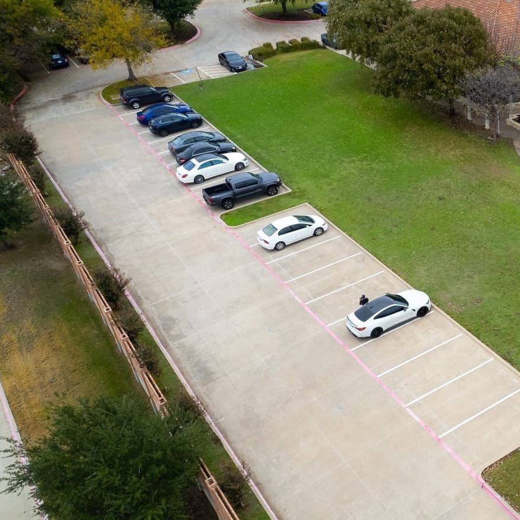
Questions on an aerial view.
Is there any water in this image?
No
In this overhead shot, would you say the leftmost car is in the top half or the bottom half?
top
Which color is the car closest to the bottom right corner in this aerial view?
white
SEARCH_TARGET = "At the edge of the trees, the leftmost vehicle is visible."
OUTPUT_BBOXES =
[42,49,73,69]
